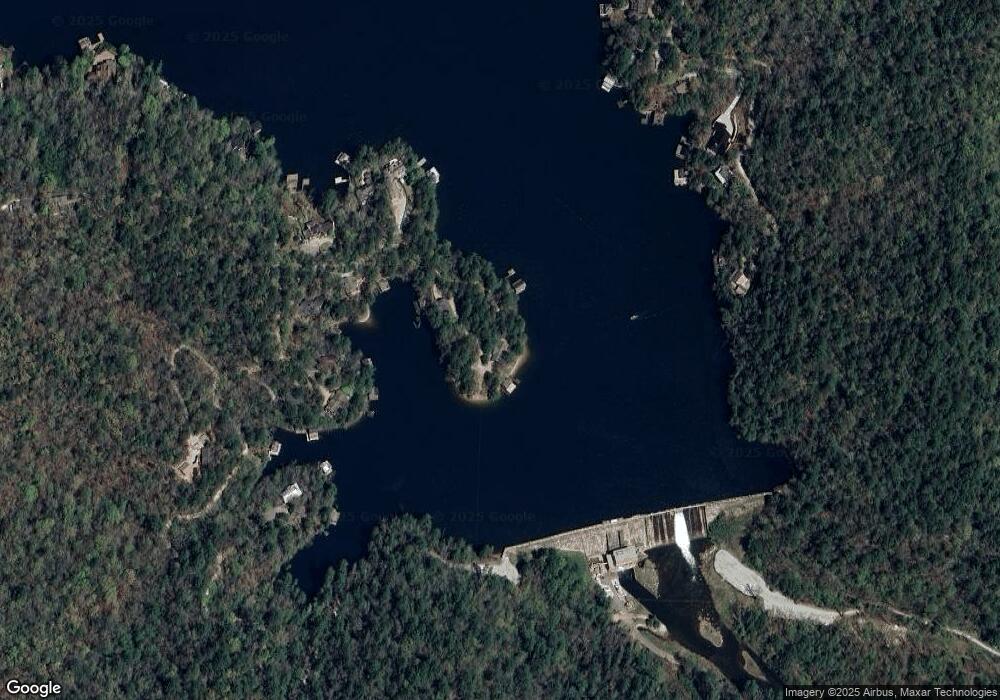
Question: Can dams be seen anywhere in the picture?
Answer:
Yes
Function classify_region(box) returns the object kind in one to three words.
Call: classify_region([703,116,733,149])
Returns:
house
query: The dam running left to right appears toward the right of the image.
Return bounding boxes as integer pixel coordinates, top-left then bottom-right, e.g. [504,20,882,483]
[500,489,777,562]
